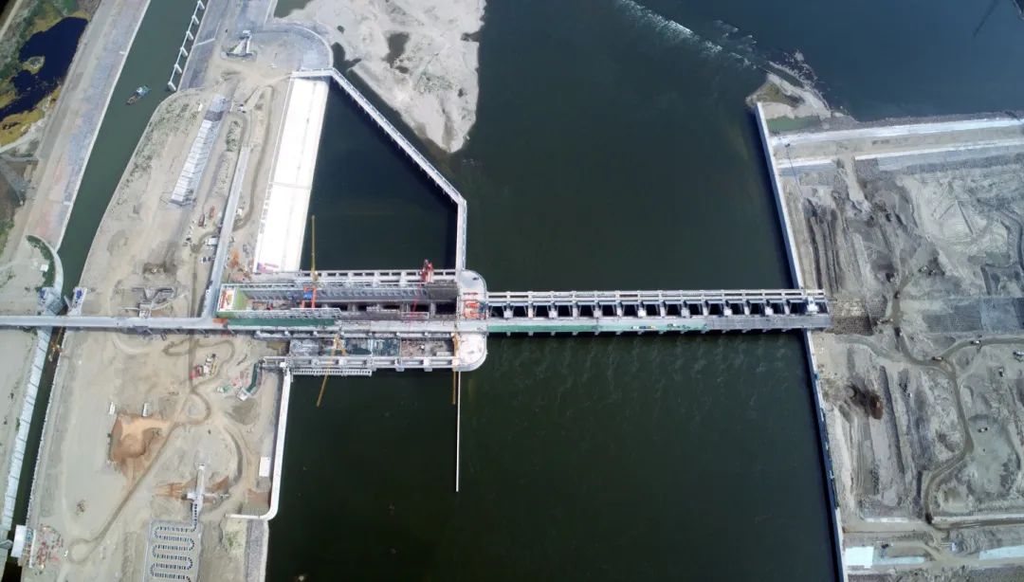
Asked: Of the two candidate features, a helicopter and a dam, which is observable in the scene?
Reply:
dam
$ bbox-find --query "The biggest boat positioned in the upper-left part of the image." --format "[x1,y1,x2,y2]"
[126,85,148,102]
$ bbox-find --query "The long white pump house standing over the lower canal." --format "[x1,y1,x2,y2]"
[9,525,34,559]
